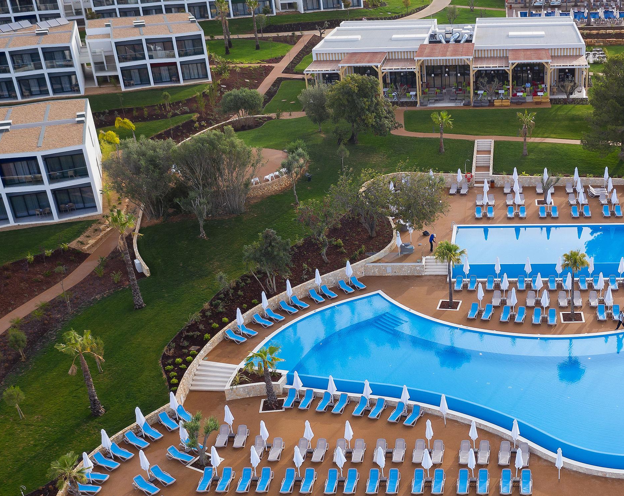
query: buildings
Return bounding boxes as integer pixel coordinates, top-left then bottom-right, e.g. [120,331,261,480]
[0,103,102,227]
[83,15,212,93]
[303,0,589,107]
[268,0,363,14]
[0,20,84,102]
